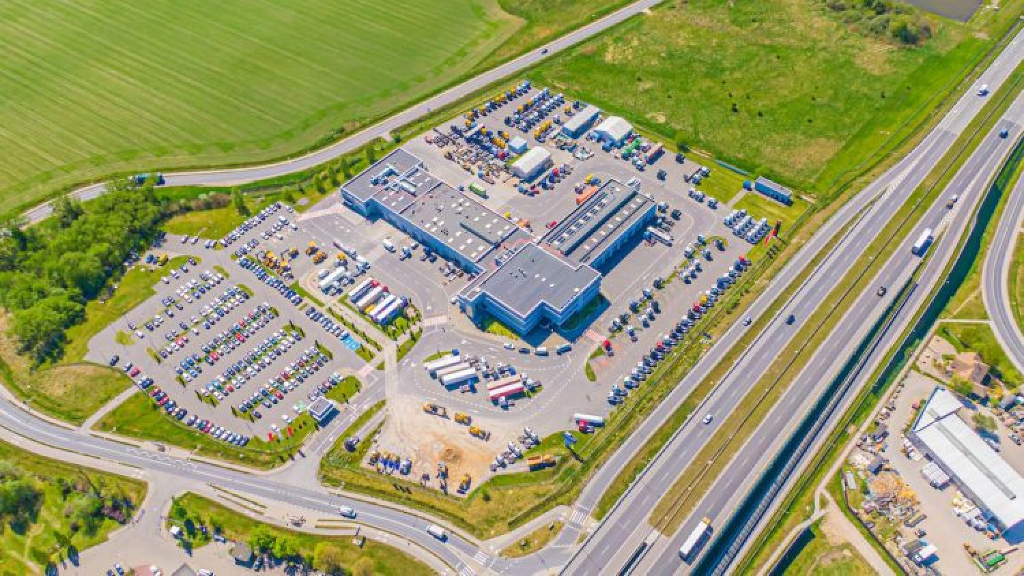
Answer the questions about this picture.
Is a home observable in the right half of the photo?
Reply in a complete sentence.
Yes, a home appears in the right half of the photo.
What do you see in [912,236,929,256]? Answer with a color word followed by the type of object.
white vehicle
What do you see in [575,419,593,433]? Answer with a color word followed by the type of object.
red vehicle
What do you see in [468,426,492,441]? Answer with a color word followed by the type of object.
yellow work vehicle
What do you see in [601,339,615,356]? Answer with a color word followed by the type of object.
red vehicle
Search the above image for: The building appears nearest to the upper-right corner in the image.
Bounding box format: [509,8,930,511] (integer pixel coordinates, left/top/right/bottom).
[754,177,792,205]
